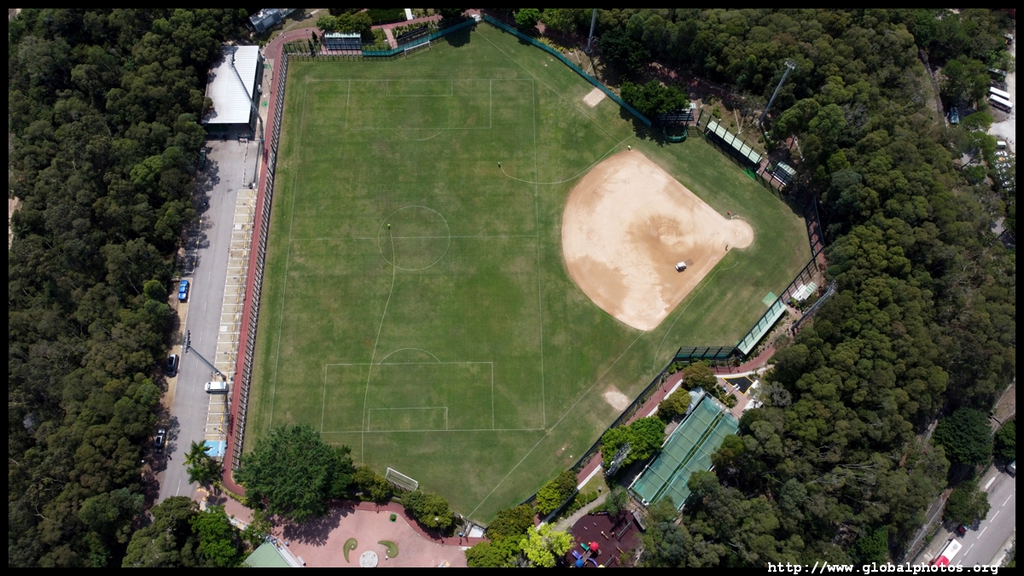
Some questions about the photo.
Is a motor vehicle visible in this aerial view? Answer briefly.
Yes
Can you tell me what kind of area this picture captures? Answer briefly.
sports ground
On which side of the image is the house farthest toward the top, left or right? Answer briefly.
left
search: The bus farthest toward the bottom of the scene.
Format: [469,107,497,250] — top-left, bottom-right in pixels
[919,539,962,576]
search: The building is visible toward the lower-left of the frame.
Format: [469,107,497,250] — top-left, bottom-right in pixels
[241,539,307,576]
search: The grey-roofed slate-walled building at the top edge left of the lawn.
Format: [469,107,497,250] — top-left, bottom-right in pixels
[249,0,303,32]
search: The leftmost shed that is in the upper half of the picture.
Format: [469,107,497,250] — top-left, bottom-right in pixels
[204,45,263,133]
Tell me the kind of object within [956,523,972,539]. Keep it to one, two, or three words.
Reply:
car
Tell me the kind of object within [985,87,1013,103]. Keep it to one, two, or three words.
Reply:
vehicle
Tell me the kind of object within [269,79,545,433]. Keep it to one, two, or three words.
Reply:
soccer field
